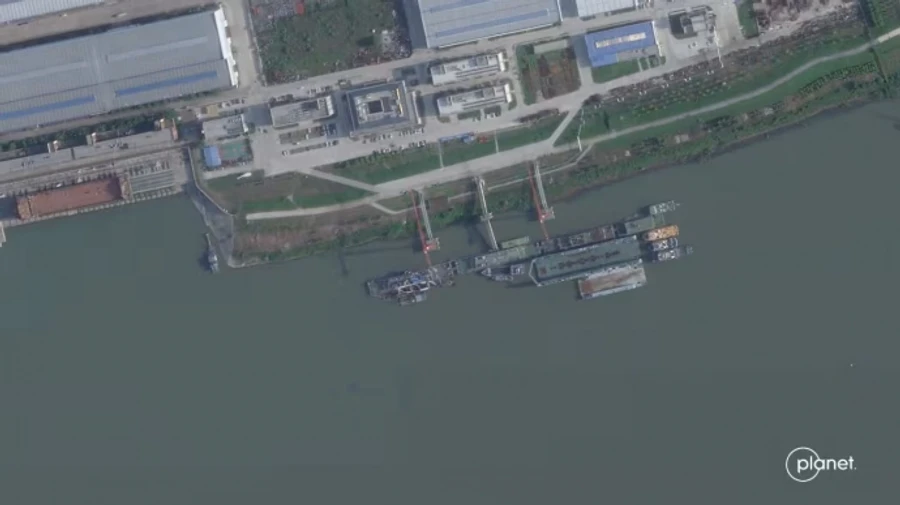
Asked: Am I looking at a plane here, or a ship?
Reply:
ship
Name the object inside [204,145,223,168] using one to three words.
shed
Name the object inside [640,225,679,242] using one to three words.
boat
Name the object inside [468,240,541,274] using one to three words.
ship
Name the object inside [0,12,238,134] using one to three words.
warehouse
